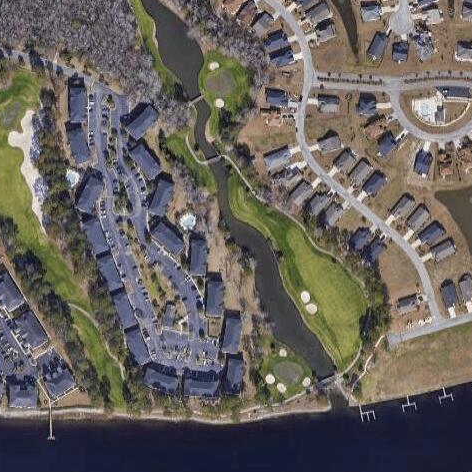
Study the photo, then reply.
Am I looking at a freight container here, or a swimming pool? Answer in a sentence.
Visible in the photo is a swimming pool.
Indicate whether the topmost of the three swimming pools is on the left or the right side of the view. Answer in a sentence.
The topmost of the three swimming pools sits on the right side.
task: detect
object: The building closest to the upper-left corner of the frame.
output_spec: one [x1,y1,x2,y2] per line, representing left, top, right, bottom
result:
[68,86,87,122]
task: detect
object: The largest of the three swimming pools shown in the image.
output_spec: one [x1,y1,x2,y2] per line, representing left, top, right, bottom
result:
[411,99,438,126]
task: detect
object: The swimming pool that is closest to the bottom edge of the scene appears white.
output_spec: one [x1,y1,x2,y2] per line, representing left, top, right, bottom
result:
[180,213,196,230]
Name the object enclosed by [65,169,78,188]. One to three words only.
swimming pool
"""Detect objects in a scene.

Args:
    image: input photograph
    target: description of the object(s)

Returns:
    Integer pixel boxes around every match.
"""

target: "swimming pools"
[65,169,78,188]
[411,99,438,126]
[180,213,196,230]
